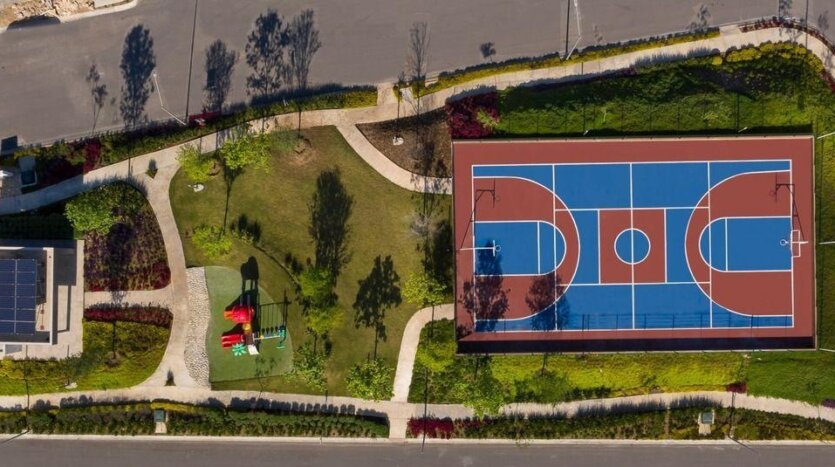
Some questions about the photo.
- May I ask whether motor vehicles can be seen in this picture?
No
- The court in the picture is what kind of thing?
basketball court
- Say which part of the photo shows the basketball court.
right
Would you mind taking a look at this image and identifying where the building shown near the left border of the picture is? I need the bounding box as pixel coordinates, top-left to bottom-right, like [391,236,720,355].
[0,247,70,344]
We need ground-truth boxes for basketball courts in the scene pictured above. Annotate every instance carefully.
[453,137,815,353]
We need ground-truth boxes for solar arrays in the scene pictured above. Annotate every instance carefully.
[0,258,40,336]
